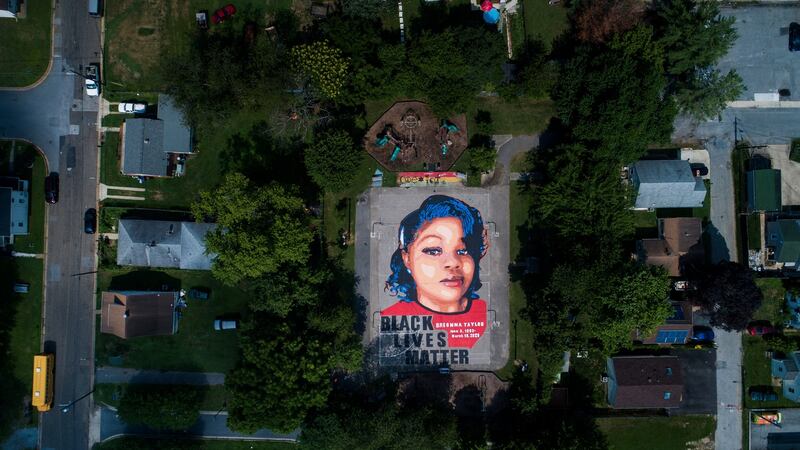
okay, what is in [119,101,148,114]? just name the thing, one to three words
vehicle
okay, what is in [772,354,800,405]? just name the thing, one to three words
house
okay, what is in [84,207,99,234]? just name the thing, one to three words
car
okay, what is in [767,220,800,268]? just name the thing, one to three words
house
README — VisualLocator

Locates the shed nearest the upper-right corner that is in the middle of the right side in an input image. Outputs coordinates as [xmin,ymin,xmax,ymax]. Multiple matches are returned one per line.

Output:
[744,169,781,212]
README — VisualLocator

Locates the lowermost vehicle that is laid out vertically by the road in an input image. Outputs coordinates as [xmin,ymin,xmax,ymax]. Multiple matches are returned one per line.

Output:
[30,351,56,407]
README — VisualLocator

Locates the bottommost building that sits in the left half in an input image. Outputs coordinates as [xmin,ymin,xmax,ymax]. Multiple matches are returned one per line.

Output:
[100,291,187,338]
